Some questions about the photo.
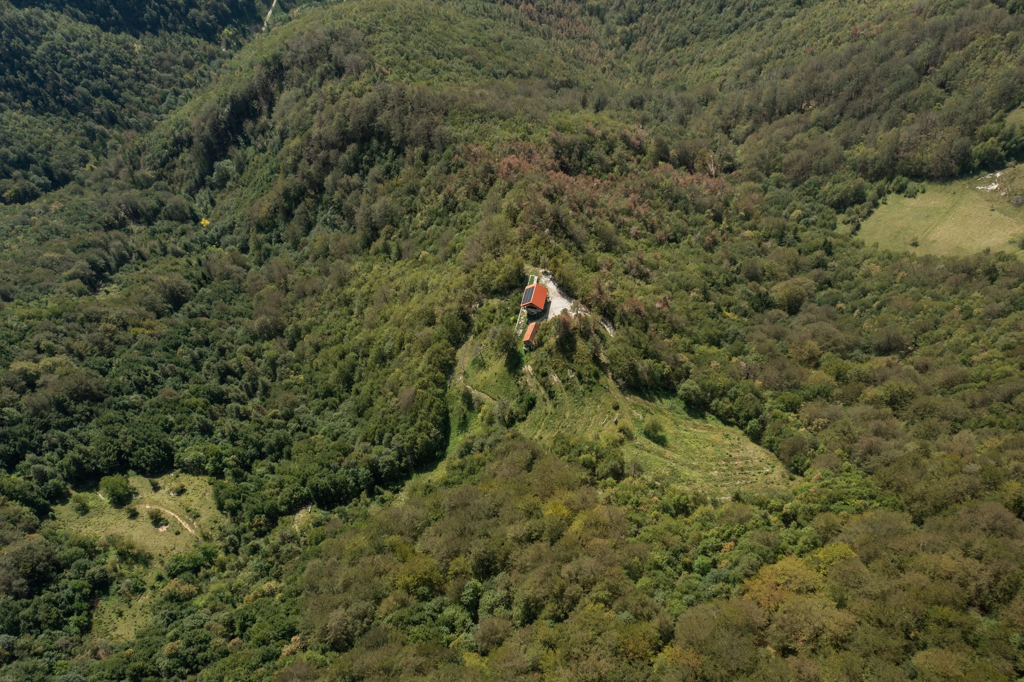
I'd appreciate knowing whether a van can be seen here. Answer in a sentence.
No, there's no van here.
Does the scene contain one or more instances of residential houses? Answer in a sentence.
Yes, a residential house can be made out from above.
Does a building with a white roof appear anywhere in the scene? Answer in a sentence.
No, no building with a white roof is visible in the scene.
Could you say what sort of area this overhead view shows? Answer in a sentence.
What you see here is a forest.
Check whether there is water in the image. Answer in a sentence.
No, no water is visible.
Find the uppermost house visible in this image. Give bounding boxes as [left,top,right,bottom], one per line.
[519,283,548,317]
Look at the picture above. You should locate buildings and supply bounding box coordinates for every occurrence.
[519,283,548,317]
[523,322,540,348]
